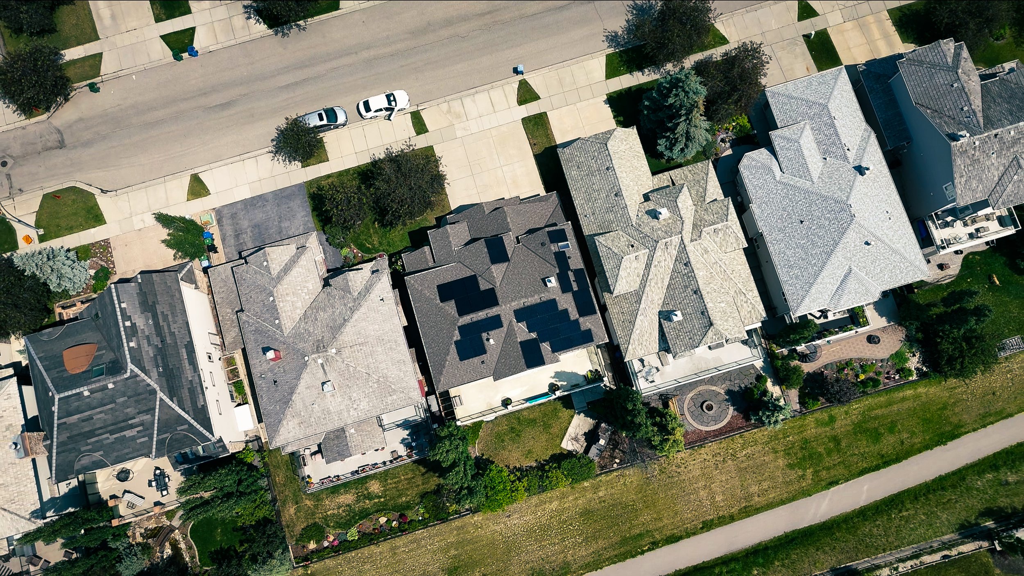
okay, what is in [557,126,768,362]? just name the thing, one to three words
house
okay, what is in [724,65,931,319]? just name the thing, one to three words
house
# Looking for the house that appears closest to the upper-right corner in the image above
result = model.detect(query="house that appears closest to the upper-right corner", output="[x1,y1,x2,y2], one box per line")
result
[850,38,1024,223]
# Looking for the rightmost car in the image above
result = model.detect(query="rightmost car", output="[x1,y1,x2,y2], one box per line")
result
[356,89,413,125]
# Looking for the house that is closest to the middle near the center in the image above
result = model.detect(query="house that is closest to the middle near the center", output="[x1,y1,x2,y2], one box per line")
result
[401,191,609,392]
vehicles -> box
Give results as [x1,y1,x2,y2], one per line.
[290,100,354,132]
[356,89,413,125]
